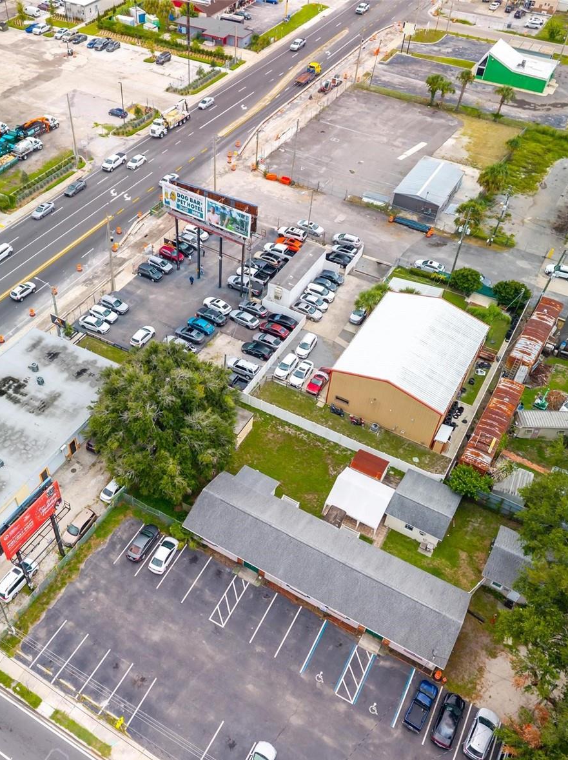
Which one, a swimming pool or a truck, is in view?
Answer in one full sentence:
I can see a truck in this picture.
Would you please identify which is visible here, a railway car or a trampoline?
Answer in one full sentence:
It is a railway car that can be seen here.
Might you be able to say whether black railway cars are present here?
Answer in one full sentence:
No, the scene contains no black railway car.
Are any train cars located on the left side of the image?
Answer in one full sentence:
No, on the left side of the image there is no train car.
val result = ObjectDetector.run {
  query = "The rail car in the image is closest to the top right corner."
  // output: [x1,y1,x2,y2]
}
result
[502,302,565,386]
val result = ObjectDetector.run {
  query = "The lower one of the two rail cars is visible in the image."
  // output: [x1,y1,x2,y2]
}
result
[456,384,524,490]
